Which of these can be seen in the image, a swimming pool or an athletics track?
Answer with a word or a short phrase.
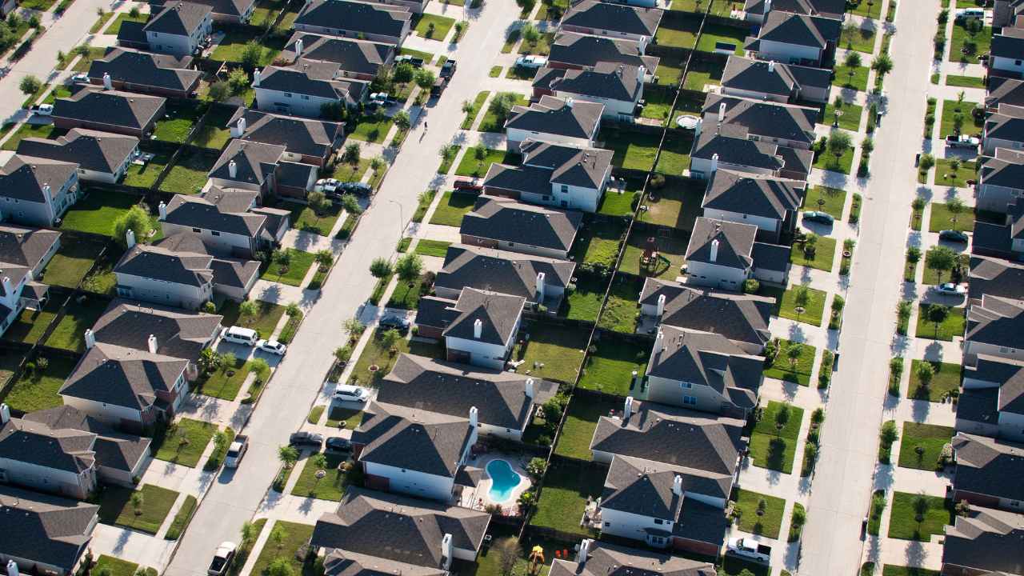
swimming pool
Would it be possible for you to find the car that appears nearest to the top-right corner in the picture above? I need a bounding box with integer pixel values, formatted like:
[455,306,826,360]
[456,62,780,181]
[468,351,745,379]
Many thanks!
[956,5,984,19]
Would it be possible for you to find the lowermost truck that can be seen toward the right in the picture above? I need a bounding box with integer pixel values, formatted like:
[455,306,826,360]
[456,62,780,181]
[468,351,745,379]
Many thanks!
[728,537,773,558]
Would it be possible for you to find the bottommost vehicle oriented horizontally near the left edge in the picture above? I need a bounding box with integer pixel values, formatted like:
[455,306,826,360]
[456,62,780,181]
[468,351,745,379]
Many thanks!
[26,100,55,115]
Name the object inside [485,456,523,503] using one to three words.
swimming pool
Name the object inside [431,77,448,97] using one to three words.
car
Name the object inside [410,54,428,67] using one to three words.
vehicle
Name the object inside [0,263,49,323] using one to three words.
house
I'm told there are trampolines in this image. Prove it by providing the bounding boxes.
[676,114,699,131]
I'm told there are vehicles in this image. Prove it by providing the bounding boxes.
[441,59,459,79]
[223,430,250,463]
[379,313,412,329]
[454,175,484,192]
[937,280,968,295]
[431,77,448,97]
[410,54,428,67]
[344,183,374,198]
[516,53,548,67]
[291,426,327,444]
[324,433,356,450]
[946,133,980,148]
[334,381,371,401]
[368,92,398,106]
[941,226,969,242]
[728,537,773,558]
[220,323,260,344]
[205,540,235,576]
[317,188,350,203]
[801,207,831,221]
[956,5,984,19]
[26,100,55,115]
[254,335,288,350]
